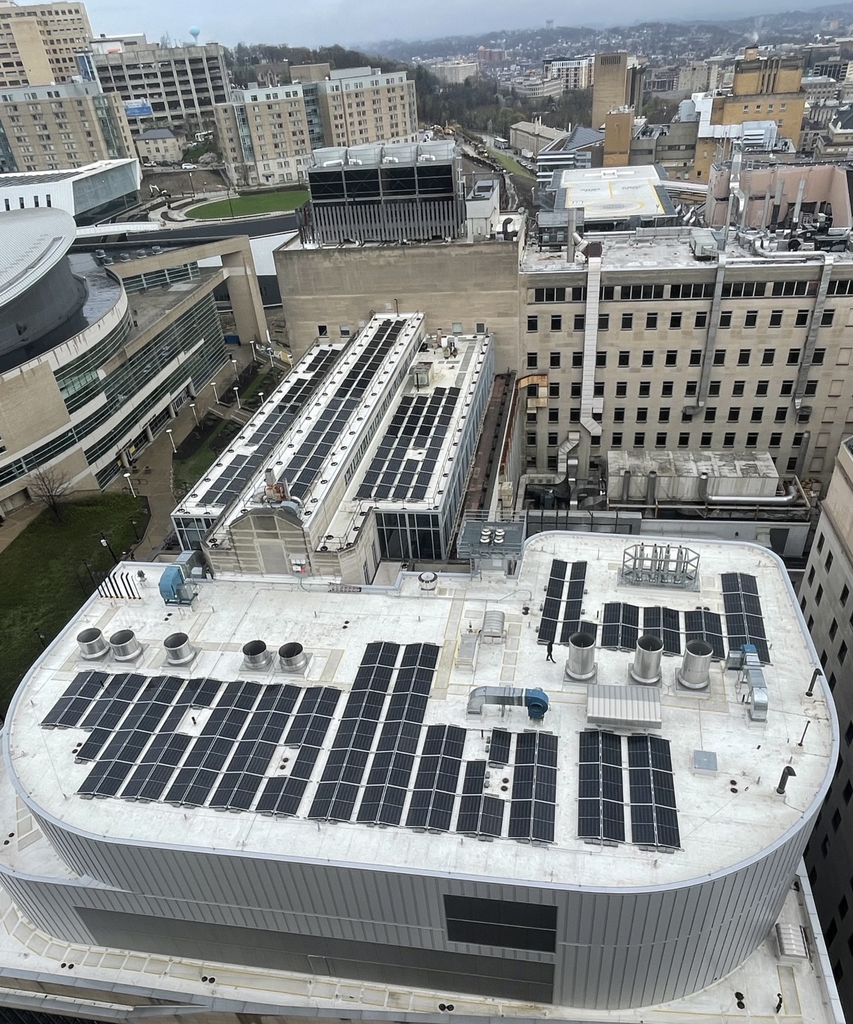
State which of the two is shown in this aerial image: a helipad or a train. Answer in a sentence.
Looking from above, you can make out a helipad.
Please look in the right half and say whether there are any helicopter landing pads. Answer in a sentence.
Yes, the scene does show a helicopter landing pad in the right half.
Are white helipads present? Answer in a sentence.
Yes, a white helipad appears in the view.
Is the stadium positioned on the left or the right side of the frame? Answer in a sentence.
The stadium sits on the left side.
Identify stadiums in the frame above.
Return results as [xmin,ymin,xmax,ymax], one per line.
[0,208,271,552]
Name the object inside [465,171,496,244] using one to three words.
shed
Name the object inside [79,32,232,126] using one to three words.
building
